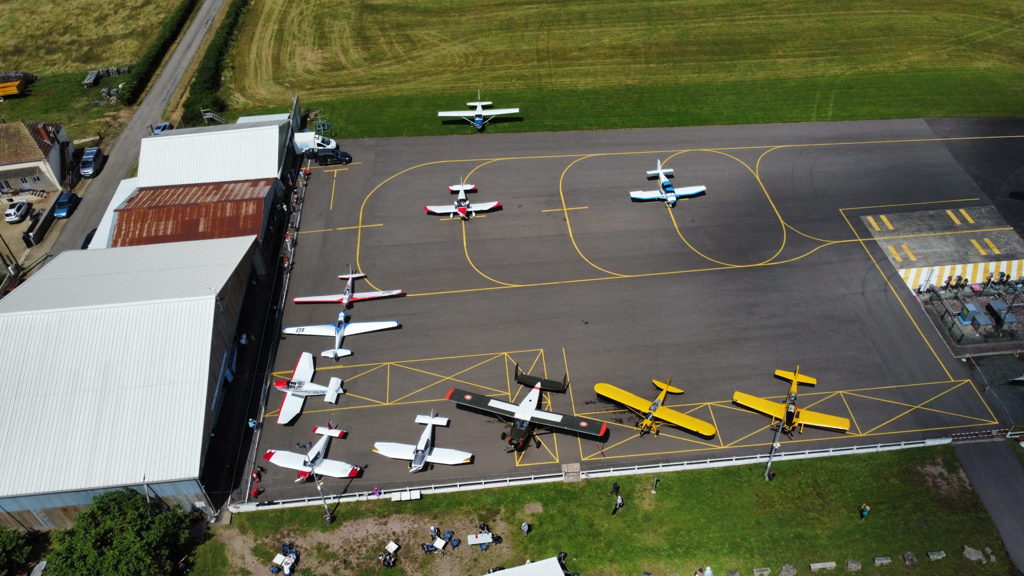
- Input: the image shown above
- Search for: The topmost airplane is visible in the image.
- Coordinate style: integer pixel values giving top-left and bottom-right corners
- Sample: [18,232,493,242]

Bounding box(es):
[437,92,520,134]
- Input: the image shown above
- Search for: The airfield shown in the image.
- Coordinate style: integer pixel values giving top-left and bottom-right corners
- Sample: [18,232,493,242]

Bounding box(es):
[221,116,1024,512]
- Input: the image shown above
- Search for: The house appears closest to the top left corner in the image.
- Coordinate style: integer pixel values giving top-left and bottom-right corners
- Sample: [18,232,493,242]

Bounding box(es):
[0,120,90,203]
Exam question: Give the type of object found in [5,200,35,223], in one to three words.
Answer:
car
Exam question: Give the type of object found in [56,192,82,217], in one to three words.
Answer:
car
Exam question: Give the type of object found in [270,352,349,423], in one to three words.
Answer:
airplane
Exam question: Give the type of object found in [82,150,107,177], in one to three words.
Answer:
vehicle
